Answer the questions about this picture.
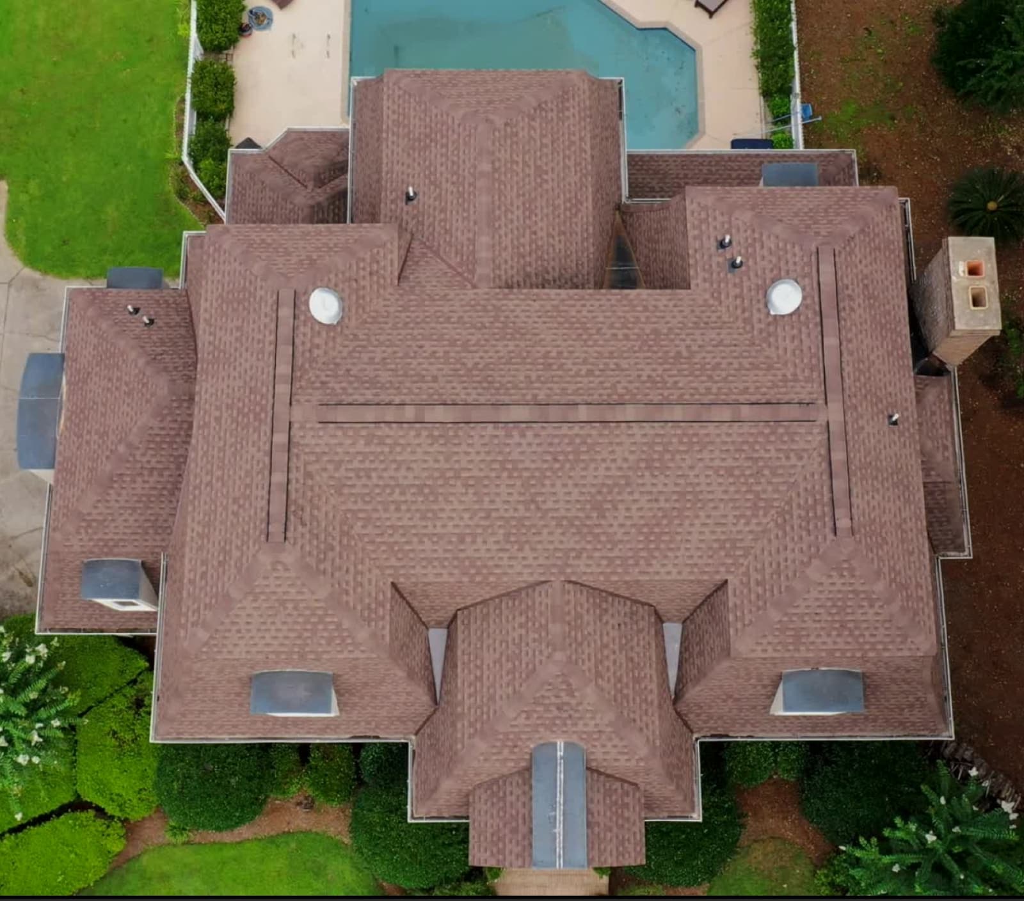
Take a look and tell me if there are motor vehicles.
No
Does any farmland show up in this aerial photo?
No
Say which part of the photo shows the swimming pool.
top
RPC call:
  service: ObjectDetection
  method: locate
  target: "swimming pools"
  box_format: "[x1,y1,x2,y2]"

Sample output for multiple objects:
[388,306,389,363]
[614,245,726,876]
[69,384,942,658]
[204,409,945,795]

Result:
[349,0,698,150]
